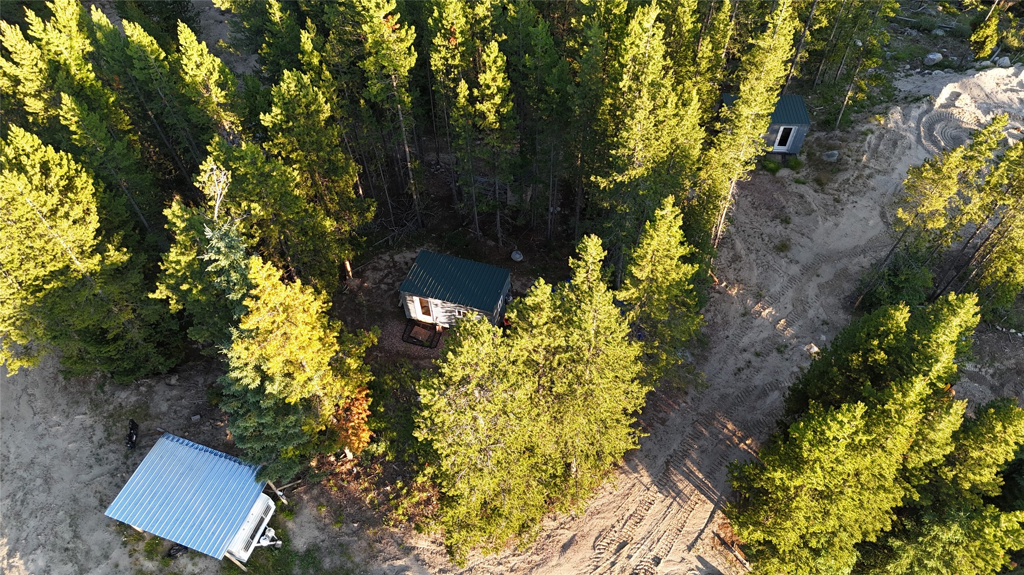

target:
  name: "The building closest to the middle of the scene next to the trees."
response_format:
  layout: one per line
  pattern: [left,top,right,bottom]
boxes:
[398,249,512,339]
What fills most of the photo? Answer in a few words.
trees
